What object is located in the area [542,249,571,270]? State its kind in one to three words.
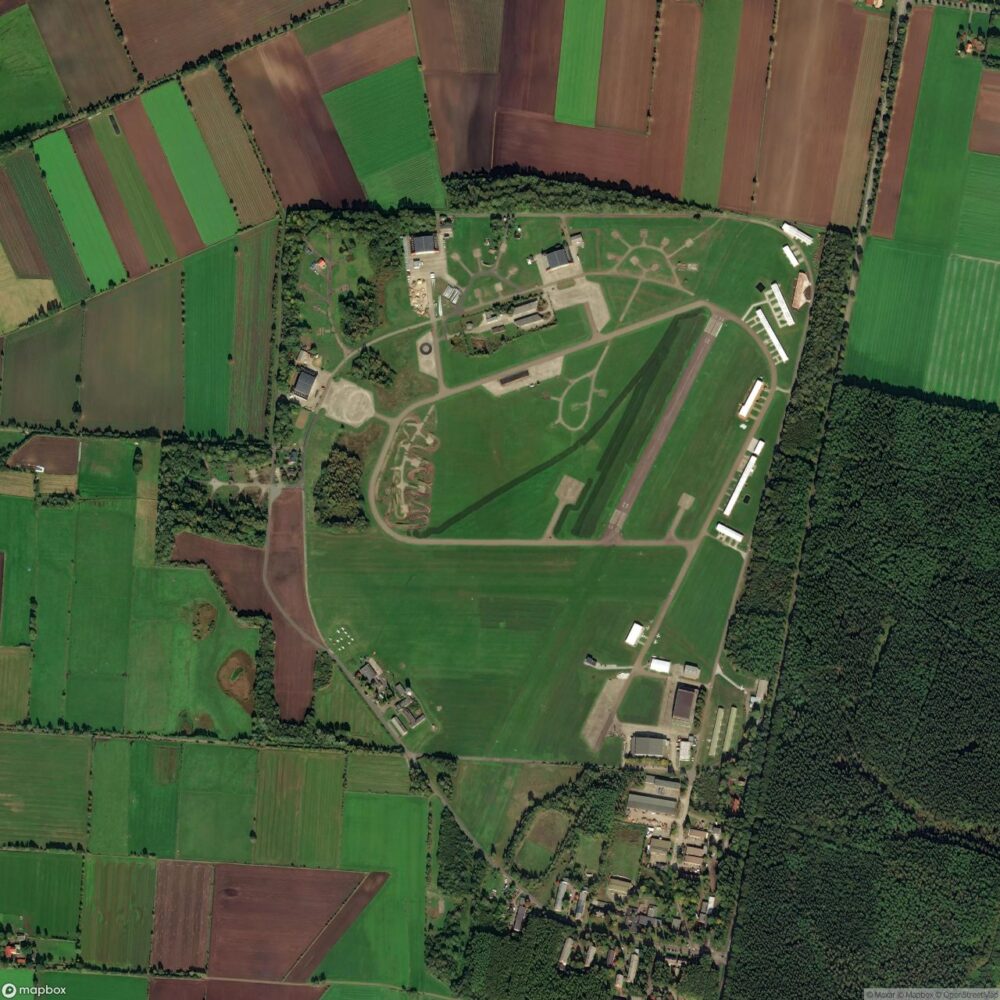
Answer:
hangar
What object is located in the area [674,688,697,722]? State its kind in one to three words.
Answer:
hangar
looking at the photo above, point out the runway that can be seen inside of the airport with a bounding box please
[602,307,728,548]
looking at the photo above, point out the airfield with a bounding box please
[276,212,822,775]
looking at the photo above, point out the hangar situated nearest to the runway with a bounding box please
[757,310,788,361]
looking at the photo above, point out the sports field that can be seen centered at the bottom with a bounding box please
[515,809,566,874]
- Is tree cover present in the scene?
Yes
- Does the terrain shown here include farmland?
Yes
